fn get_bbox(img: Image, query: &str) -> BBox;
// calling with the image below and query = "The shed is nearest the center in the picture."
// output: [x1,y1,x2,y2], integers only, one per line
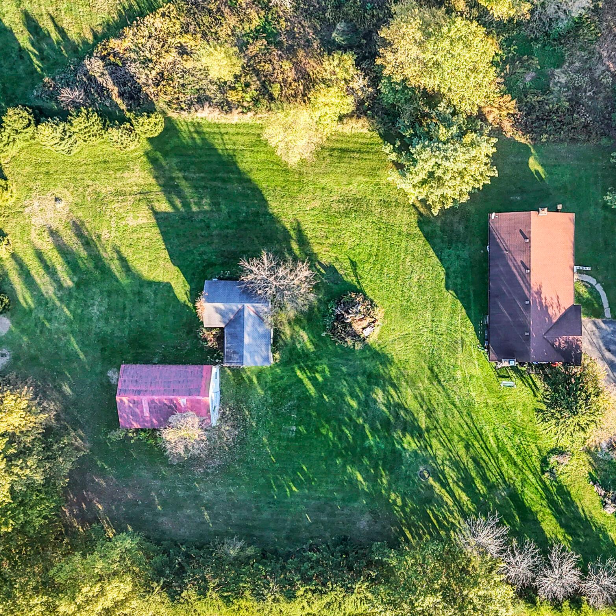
[200,280,278,367]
